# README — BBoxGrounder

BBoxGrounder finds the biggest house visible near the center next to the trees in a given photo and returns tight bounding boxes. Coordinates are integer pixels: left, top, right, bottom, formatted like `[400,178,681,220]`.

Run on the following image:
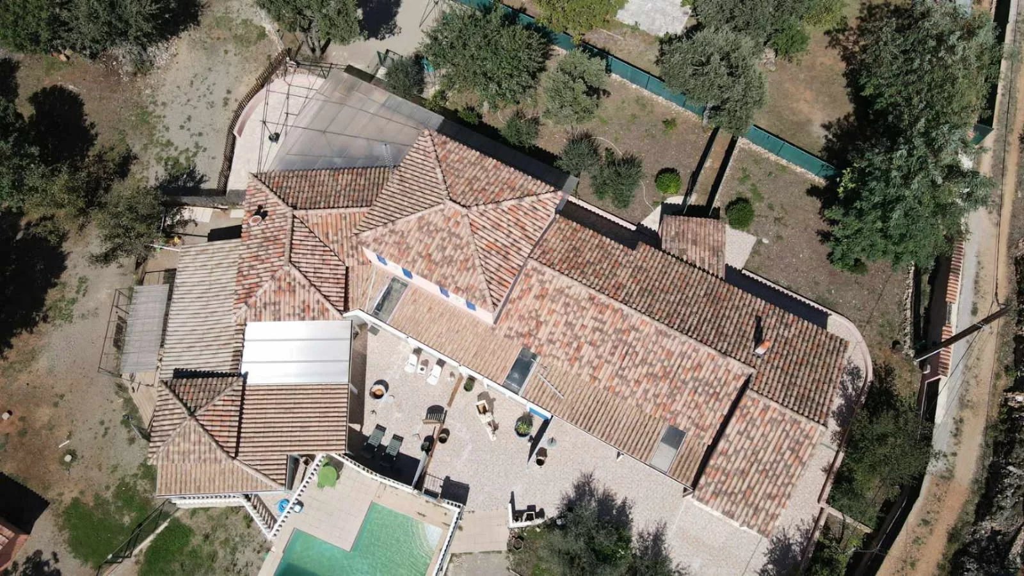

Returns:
[145,126,850,540]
